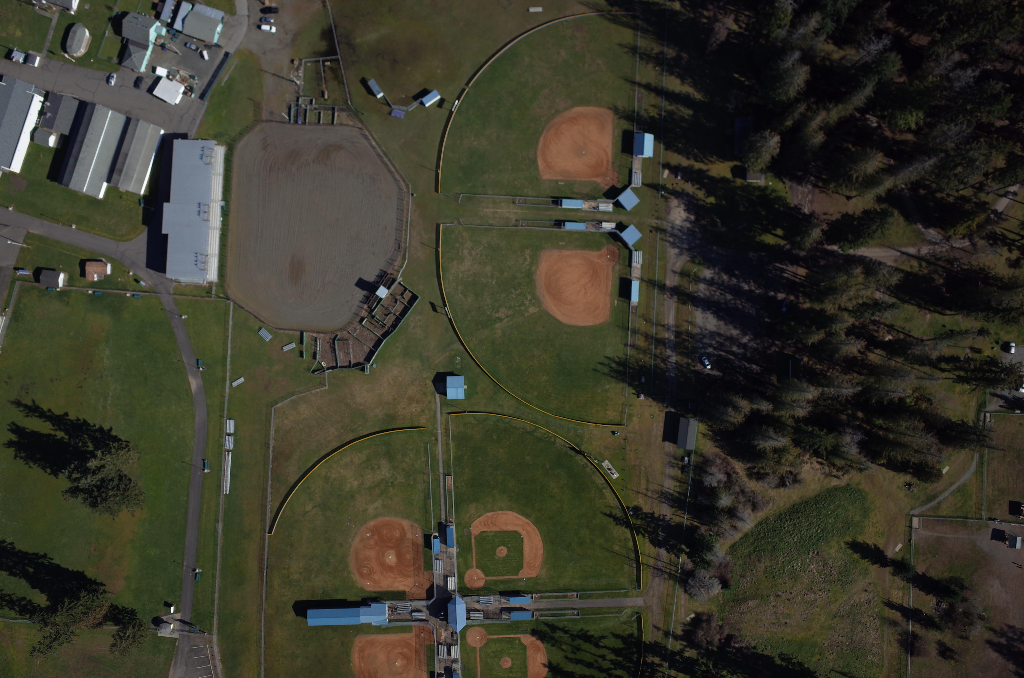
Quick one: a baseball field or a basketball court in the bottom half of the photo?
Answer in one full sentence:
It is a baseball field that can be seen in the bottom half of the photo.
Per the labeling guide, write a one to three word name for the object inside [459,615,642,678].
baseball field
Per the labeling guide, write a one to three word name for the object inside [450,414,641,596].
baseball field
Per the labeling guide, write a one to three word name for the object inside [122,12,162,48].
house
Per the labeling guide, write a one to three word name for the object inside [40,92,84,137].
barn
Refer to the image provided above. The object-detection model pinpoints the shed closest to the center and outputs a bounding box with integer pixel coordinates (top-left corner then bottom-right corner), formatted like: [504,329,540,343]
[447,376,465,399]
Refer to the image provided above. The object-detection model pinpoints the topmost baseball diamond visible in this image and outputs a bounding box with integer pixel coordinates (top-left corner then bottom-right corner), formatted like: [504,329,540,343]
[440,14,640,201]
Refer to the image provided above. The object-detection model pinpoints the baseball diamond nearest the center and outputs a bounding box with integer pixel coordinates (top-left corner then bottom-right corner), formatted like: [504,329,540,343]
[441,224,633,425]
